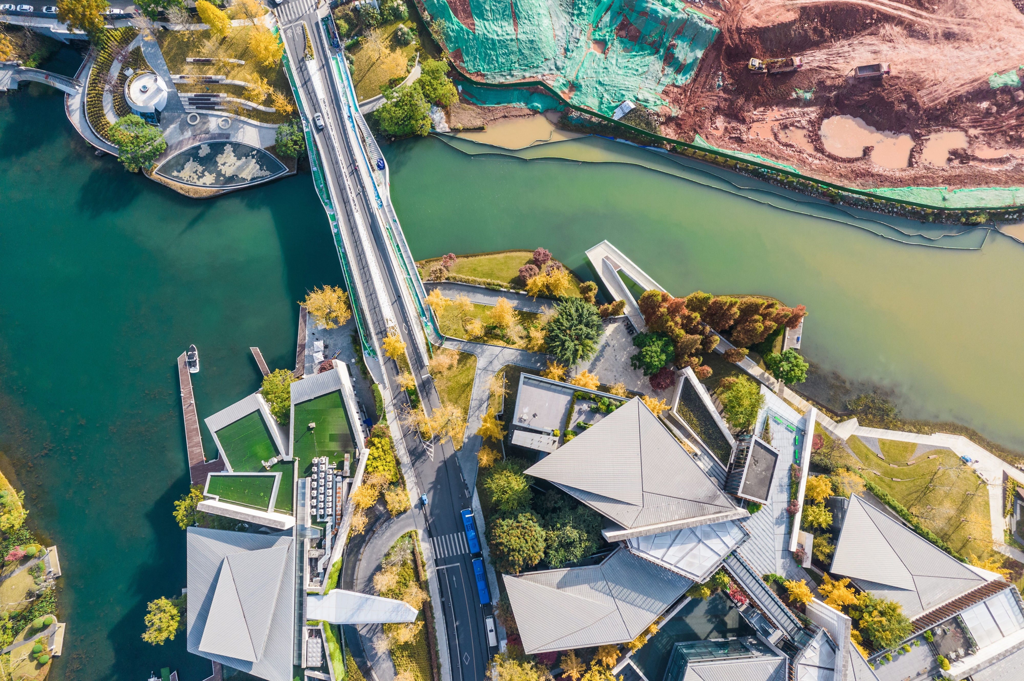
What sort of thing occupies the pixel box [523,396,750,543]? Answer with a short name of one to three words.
building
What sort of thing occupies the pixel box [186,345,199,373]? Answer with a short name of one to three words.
boat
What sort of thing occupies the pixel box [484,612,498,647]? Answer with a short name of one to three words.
vehicle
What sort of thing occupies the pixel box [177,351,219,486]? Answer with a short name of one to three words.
pier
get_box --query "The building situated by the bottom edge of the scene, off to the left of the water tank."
[182,524,312,681]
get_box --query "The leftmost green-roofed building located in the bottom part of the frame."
[196,392,298,530]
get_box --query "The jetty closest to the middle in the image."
[584,239,673,325]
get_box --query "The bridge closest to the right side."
[274,0,440,389]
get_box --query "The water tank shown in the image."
[307,634,325,667]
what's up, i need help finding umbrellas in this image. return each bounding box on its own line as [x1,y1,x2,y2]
[313,340,325,352]
[313,351,324,363]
